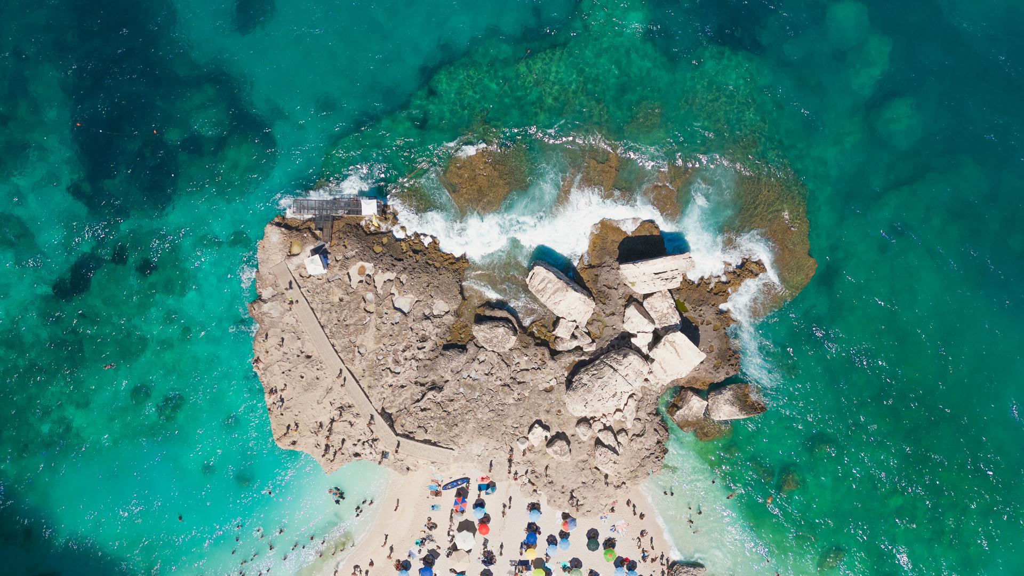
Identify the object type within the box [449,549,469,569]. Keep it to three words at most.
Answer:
umbrella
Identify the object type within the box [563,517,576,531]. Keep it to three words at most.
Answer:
umbrella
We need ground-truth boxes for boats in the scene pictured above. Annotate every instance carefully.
[442,478,471,491]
